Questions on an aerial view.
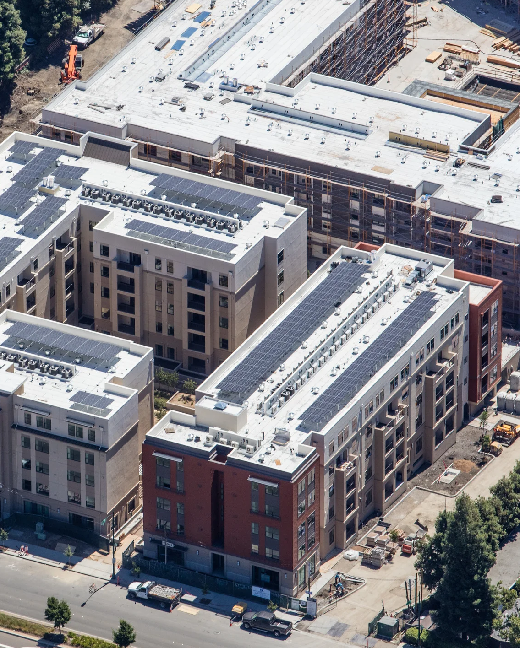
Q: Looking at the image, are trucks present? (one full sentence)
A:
Yes, the image includes a truck.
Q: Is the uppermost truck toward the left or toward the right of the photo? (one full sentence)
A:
You can find the uppermost truck on the left side of the picture.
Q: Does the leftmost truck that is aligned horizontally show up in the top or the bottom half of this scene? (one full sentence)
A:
The bottom half of the photo is where the leftmost truck that is aligned horizontally is.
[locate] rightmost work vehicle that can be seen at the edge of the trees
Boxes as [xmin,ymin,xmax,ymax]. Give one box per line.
[486,440,507,457]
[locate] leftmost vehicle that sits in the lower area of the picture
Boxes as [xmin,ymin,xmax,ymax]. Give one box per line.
[121,576,183,609]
